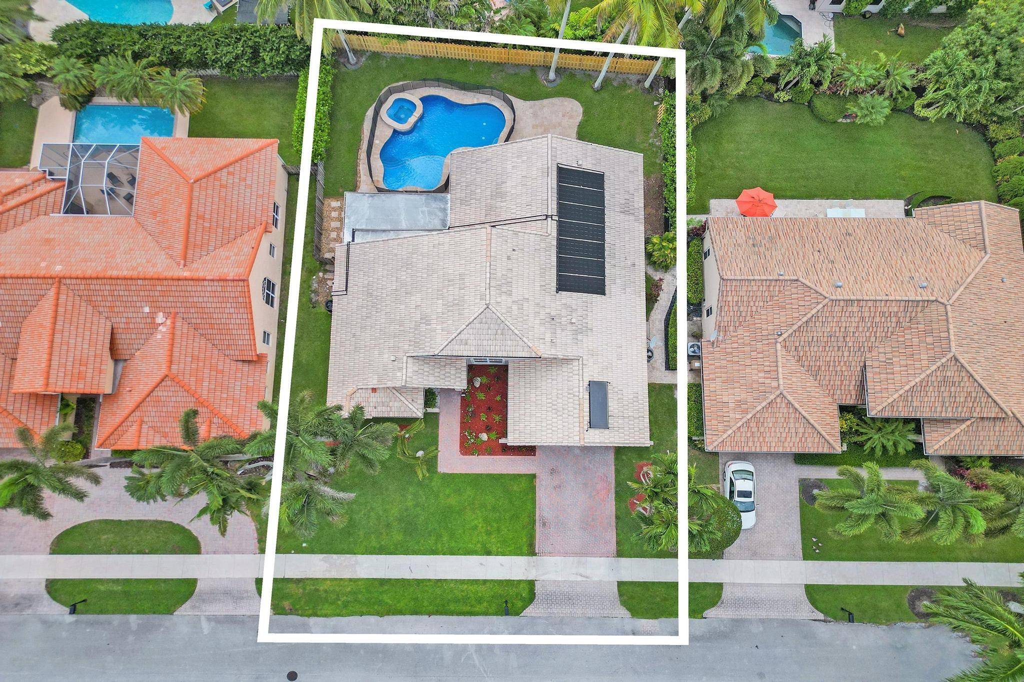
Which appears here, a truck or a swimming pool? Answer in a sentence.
The one in the frame is a swimming pool.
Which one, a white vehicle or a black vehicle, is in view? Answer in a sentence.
The one in the frame is a white vehicle.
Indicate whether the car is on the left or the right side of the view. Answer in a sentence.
The car is on the right side of the image.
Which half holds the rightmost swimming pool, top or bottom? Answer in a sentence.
The rightmost swimming pool sits in the top half of the picture.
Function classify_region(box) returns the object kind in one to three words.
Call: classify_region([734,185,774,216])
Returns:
umbrella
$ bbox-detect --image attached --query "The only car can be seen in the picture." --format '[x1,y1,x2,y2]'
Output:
[728,461,764,531]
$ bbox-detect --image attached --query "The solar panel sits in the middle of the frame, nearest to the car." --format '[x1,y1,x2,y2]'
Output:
[586,381,613,432]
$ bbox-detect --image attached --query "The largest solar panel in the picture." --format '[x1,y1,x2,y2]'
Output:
[557,164,607,296]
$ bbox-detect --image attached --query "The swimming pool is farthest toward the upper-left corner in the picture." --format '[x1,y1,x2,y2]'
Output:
[70,0,172,24]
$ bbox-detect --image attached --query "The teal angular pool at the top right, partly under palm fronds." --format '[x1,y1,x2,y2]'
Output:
[749,9,803,56]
